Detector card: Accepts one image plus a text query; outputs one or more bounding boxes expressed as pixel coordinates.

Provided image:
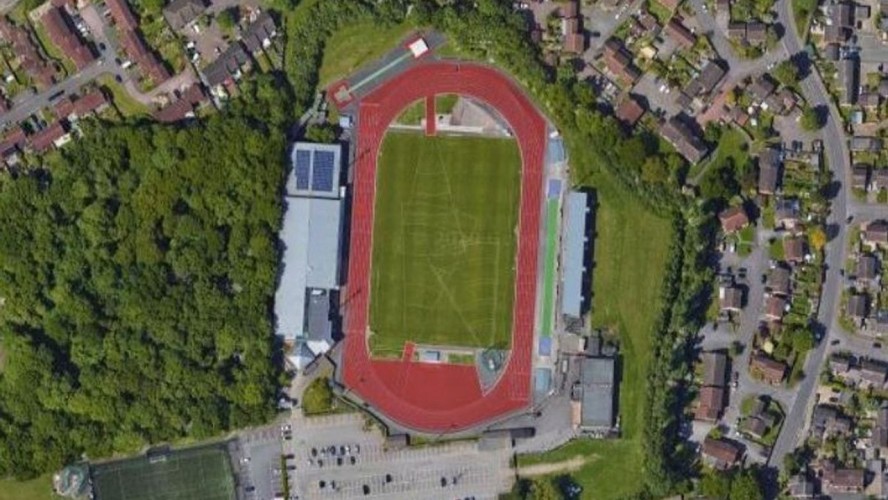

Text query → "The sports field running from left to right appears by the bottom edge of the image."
[90,440,238,500]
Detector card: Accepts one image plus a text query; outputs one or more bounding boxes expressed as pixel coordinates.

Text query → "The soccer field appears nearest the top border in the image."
[367,94,523,361]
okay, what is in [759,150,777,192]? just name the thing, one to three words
house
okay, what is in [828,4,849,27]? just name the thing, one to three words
house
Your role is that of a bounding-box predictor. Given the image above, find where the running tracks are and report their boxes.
[342,62,547,432]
